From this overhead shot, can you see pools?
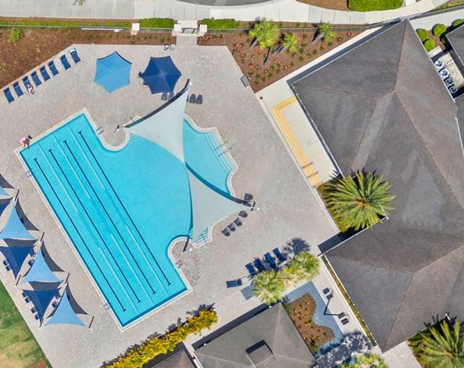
Yes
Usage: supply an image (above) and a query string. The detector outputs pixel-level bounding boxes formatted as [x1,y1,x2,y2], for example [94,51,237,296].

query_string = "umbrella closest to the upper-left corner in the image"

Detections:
[94,54,131,93]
